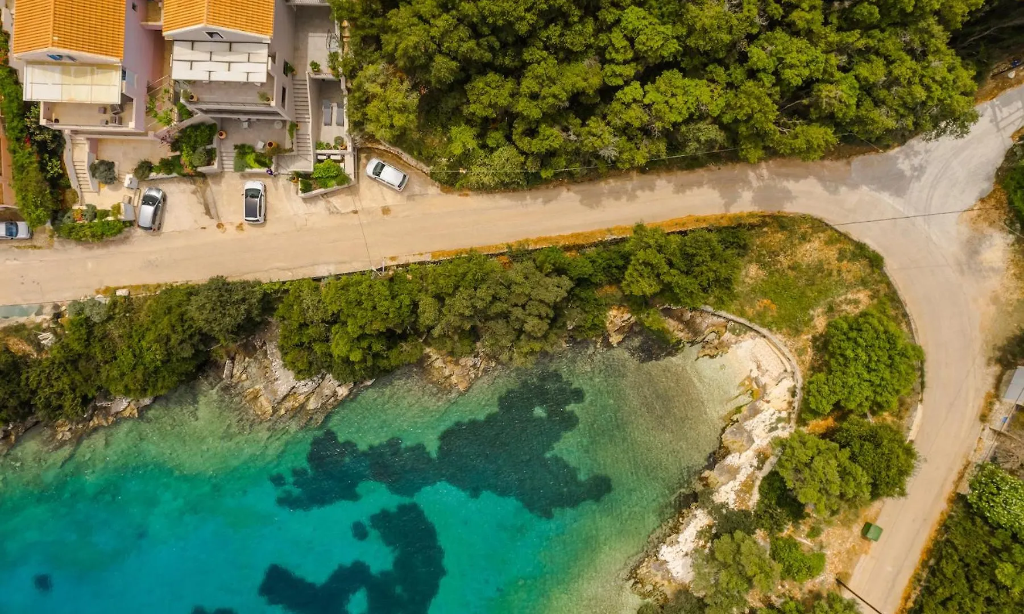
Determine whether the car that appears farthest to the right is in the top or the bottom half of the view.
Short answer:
top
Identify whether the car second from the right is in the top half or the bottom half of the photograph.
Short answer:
top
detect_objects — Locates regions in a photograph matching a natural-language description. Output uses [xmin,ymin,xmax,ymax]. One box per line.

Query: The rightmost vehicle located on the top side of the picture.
[367,160,409,191]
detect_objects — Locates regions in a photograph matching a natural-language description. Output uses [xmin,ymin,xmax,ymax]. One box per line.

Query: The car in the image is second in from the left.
[138,188,166,231]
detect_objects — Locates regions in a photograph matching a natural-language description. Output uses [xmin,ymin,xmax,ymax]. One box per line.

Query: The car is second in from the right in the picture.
[243,181,267,224]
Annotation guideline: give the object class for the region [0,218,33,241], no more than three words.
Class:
car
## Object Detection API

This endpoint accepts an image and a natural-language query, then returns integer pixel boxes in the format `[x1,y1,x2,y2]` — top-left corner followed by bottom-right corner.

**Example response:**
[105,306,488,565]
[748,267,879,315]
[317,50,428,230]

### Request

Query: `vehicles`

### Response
[243,181,267,224]
[138,188,166,231]
[367,160,409,191]
[0,218,33,241]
